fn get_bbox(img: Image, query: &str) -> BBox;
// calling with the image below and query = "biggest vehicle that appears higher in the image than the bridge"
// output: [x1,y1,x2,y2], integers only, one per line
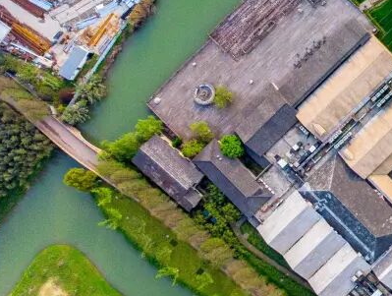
[50,27,64,42]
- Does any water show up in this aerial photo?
Yes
